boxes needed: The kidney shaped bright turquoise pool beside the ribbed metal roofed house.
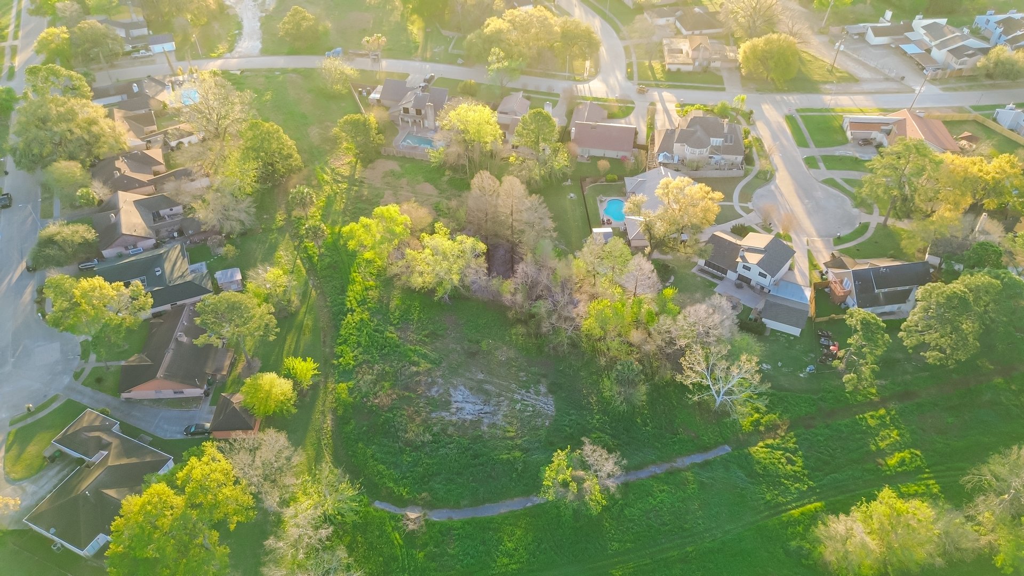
[603,198,626,222]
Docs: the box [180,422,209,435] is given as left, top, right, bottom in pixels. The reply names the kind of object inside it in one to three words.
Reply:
vehicle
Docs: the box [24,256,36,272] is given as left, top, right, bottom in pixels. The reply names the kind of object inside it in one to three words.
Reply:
vehicle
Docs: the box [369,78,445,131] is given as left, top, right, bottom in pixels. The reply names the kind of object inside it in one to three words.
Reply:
building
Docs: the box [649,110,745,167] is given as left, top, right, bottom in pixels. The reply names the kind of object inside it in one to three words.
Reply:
house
